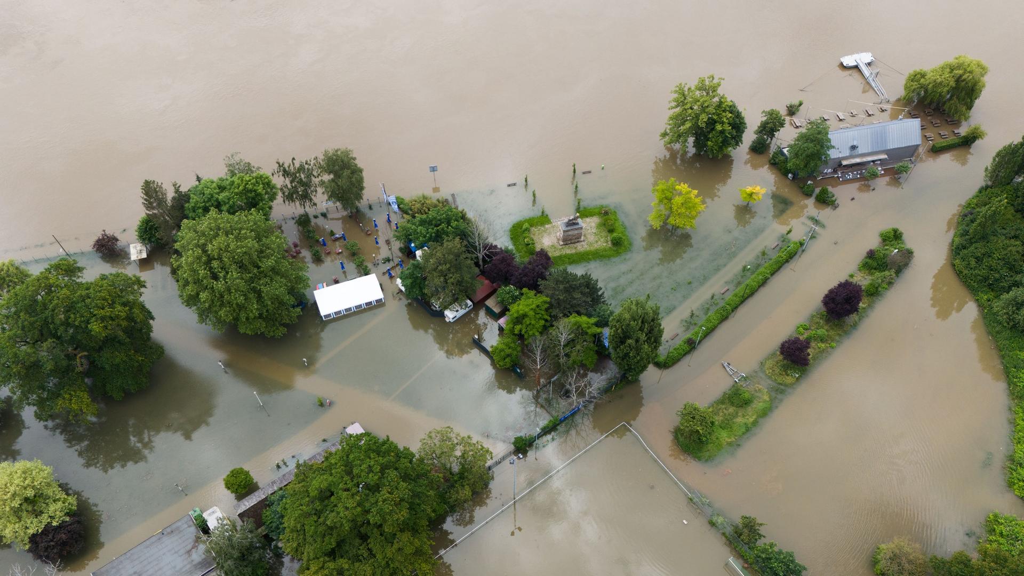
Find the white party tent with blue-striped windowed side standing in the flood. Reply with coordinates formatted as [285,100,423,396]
[314,273,386,320]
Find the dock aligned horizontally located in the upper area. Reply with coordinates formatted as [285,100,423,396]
[840,50,874,67]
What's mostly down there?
water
